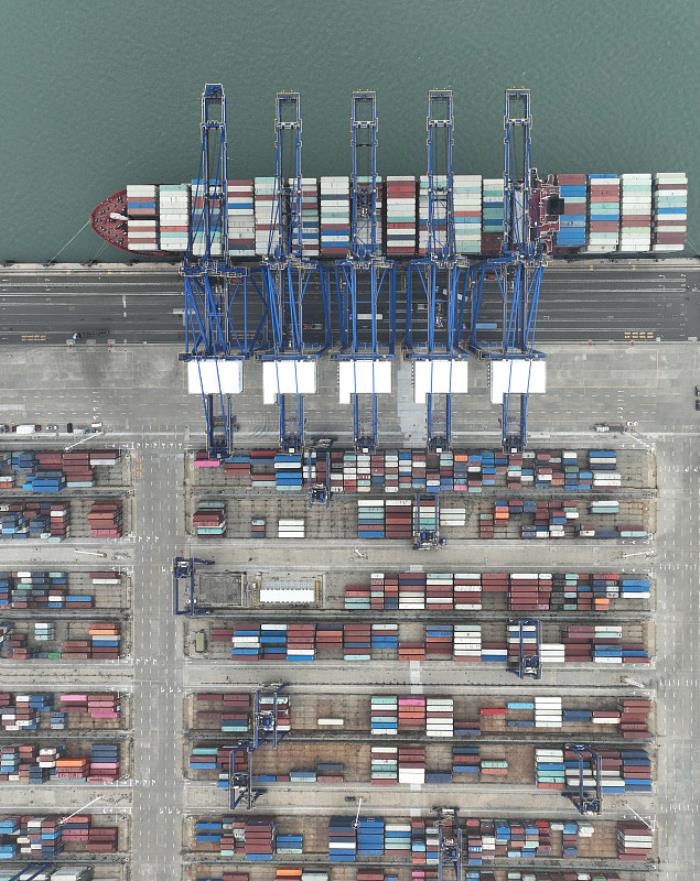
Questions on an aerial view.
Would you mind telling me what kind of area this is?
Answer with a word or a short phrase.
port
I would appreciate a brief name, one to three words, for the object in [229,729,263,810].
container crane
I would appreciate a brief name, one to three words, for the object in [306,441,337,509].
container crane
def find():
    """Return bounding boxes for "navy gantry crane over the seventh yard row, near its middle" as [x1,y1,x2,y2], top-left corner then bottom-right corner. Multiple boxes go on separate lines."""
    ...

[432,803,463,881]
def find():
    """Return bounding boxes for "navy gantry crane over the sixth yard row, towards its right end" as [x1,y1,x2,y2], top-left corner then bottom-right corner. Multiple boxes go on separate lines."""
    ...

[565,731,602,815]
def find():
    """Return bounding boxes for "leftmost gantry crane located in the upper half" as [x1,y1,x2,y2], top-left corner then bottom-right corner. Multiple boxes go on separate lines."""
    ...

[182,83,264,462]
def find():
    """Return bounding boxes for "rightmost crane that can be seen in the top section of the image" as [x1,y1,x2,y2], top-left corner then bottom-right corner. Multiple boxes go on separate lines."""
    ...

[468,82,549,460]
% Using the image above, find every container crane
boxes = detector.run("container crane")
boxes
[331,83,399,457]
[255,671,287,750]
[432,803,463,881]
[565,731,602,815]
[172,544,209,617]
[409,489,441,551]
[306,441,337,509]
[468,82,549,460]
[507,607,542,680]
[182,83,264,462]
[229,729,263,810]
[398,83,472,460]
[256,83,332,462]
